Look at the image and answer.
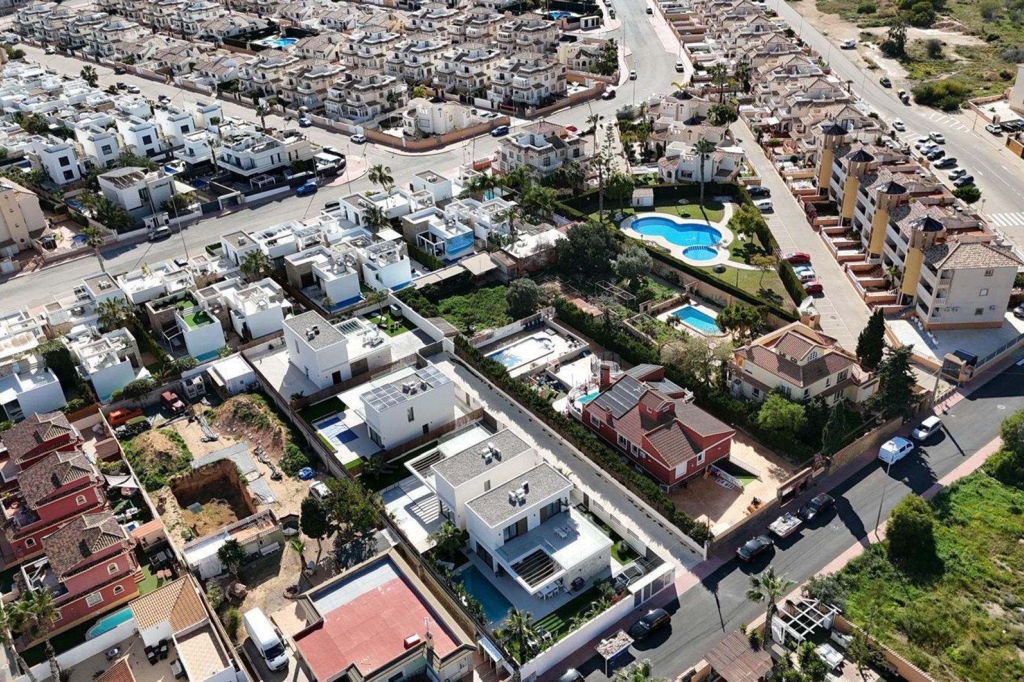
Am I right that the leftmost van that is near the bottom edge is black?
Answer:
No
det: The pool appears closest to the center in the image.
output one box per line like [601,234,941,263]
[494,333,564,369]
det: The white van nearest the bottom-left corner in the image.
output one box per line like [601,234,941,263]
[237,601,287,669]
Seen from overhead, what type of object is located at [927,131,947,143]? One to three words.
vehicle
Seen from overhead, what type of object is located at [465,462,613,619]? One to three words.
house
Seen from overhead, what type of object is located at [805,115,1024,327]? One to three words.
building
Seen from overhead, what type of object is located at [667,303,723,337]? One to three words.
swimming pool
